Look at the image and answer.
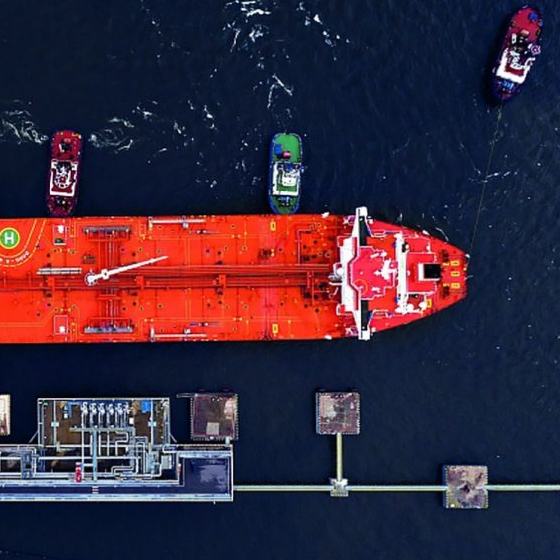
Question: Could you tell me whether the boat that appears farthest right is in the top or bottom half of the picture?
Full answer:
The boat that appears farthest right sits in the top half of the picture.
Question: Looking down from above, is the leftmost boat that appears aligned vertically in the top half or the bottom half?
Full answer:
Seen from above, the leftmost boat that appears aligned vertically lies in the top half of the view.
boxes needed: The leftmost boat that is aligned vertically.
[47,130,84,217]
